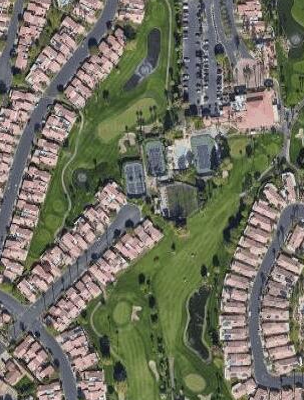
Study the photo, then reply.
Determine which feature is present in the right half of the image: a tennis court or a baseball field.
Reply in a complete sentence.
Looking in the right half of the image, you will find a tennis court.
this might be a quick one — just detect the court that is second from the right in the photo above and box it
[144,140,166,175]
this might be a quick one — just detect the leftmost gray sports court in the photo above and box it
[123,162,145,195]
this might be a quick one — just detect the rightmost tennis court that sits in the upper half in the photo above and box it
[191,135,213,173]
